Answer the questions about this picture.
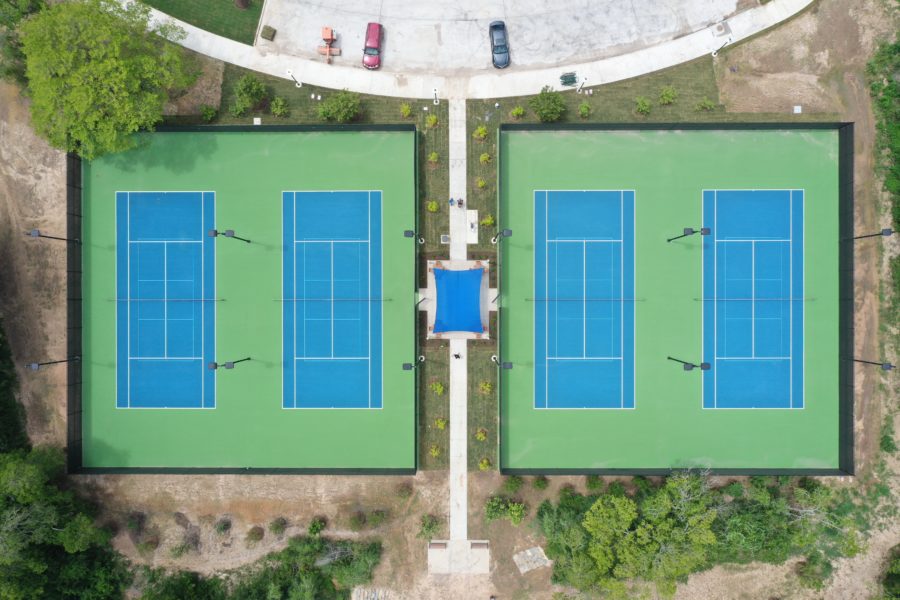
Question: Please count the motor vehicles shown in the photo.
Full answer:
In total, there are 3 motor vehicles in the scene.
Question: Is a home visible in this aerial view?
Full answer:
No, no home is visible in the scene.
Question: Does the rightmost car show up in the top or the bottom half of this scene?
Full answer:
The top half of the photo is where the rightmost car is.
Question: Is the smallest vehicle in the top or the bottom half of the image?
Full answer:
The smallest vehicle is in the top half of the image.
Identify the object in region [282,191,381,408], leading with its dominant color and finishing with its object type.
blue tennis court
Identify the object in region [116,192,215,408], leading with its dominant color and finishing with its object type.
blue tennis court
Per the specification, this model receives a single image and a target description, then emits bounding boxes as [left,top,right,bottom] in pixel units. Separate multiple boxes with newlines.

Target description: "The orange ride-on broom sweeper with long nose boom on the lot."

[315,24,339,65]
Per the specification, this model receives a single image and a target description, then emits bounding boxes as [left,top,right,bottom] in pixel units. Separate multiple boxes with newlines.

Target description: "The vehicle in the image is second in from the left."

[360,20,382,69]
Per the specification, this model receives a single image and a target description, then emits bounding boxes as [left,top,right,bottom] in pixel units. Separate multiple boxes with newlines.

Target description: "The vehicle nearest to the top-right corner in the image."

[490,20,512,69]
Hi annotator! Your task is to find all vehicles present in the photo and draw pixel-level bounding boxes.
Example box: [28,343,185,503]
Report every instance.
[490,20,512,69]
[360,20,382,69]
[315,24,339,65]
